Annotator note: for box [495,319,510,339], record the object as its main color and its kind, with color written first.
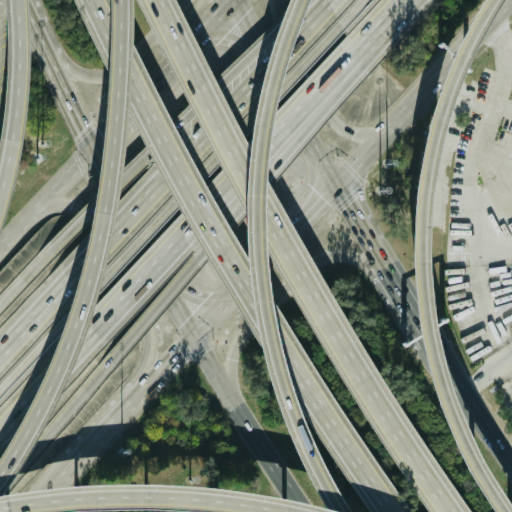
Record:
white vehicle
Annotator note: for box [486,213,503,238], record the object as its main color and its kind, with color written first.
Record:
white vehicle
